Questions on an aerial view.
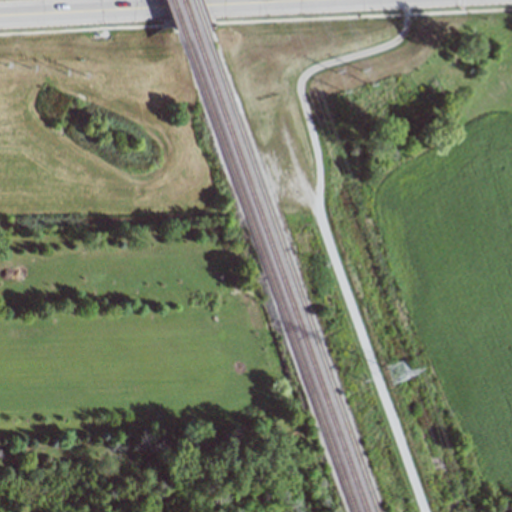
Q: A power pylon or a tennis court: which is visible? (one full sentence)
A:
The one in the frame is a power pylon.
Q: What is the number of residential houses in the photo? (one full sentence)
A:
I count no residential houses.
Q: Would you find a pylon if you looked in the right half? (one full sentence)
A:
Yes, the scene does show a pylon in the right half.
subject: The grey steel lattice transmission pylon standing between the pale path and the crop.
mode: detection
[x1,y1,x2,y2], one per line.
[386,361,433,386]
